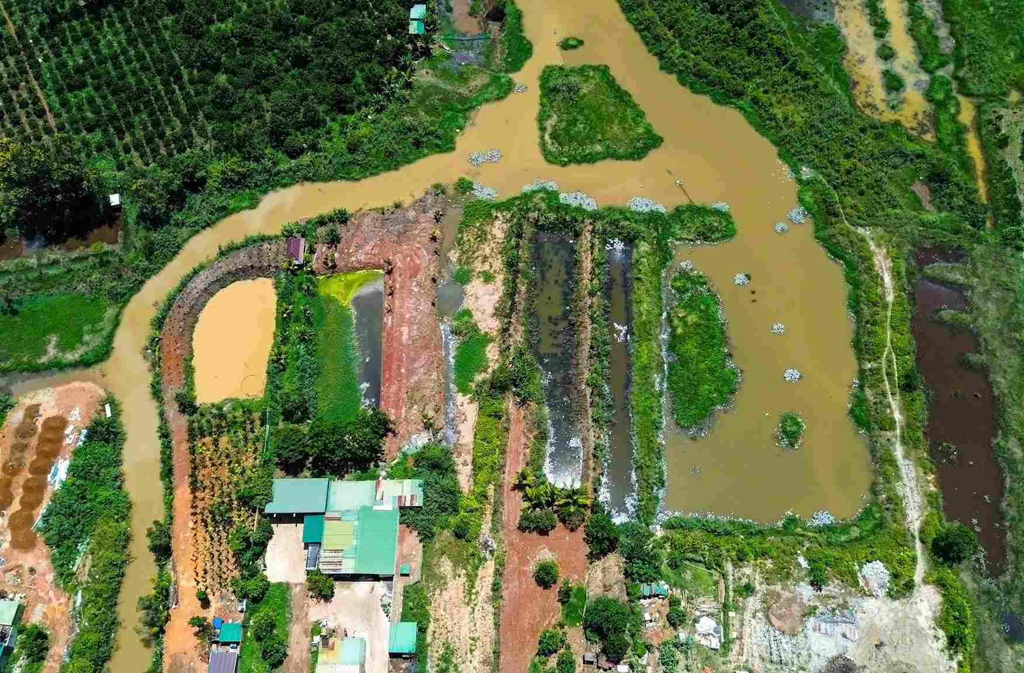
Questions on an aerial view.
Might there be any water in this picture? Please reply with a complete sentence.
Yes, water shows up in the scene.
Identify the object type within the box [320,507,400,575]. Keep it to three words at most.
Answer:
house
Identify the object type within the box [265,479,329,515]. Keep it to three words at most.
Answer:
shed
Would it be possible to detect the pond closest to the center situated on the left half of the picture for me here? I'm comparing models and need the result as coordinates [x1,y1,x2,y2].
[315,270,385,416]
